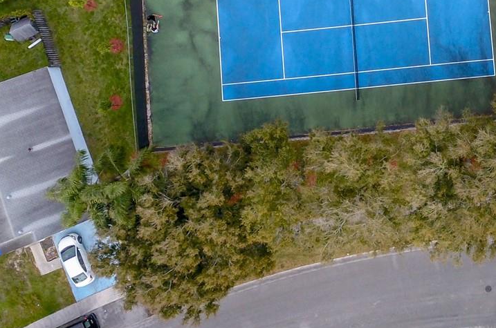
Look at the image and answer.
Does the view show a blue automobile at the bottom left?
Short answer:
No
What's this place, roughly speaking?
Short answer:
sports ground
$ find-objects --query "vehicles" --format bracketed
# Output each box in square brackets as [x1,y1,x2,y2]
[50,311,98,328]
[55,233,93,292]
